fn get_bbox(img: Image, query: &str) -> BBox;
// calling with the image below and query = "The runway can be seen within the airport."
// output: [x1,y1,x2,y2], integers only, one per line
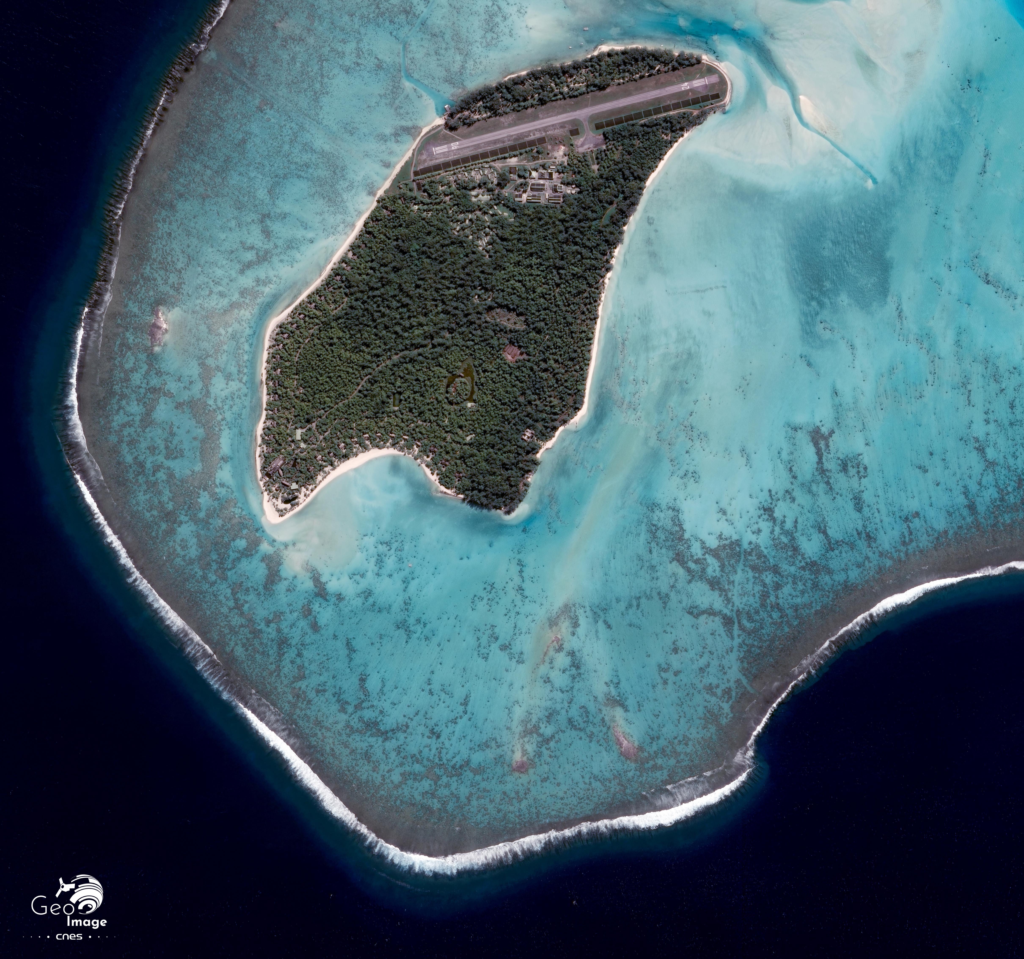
[432,74,719,155]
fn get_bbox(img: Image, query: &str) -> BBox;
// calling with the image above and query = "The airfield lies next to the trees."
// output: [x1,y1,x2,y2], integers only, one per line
[414,62,727,174]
